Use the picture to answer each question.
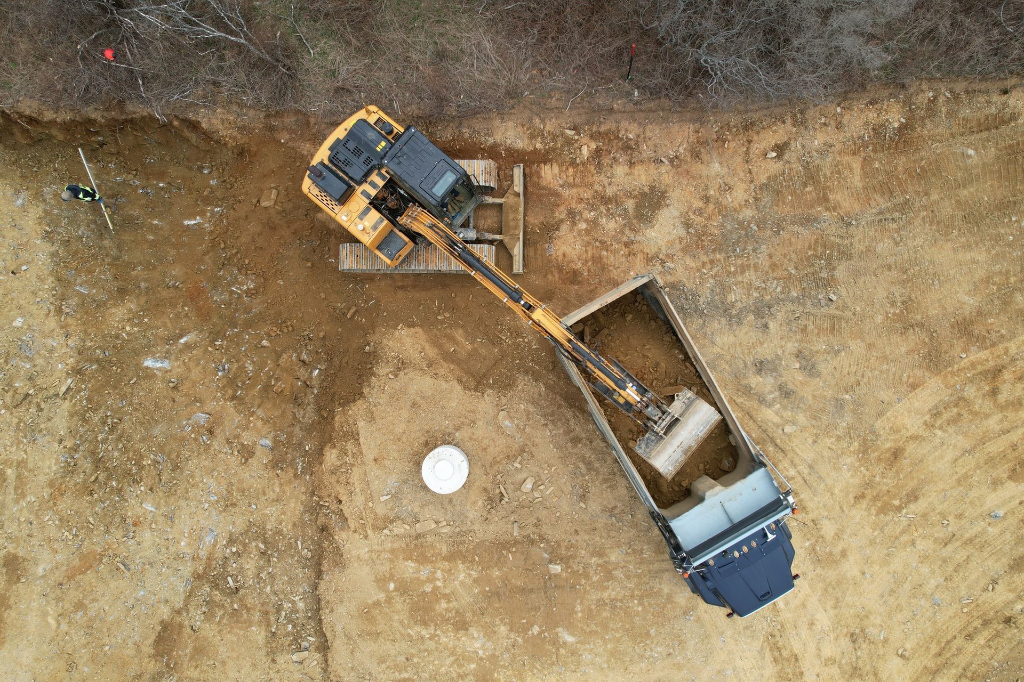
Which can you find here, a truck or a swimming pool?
truck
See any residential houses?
No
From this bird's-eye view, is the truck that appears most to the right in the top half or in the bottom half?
bottom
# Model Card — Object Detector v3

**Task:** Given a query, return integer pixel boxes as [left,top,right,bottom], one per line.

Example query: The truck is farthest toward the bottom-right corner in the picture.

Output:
[554,270,815,617]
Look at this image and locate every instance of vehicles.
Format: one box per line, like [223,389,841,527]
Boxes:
[304,101,721,480]
[554,270,815,617]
